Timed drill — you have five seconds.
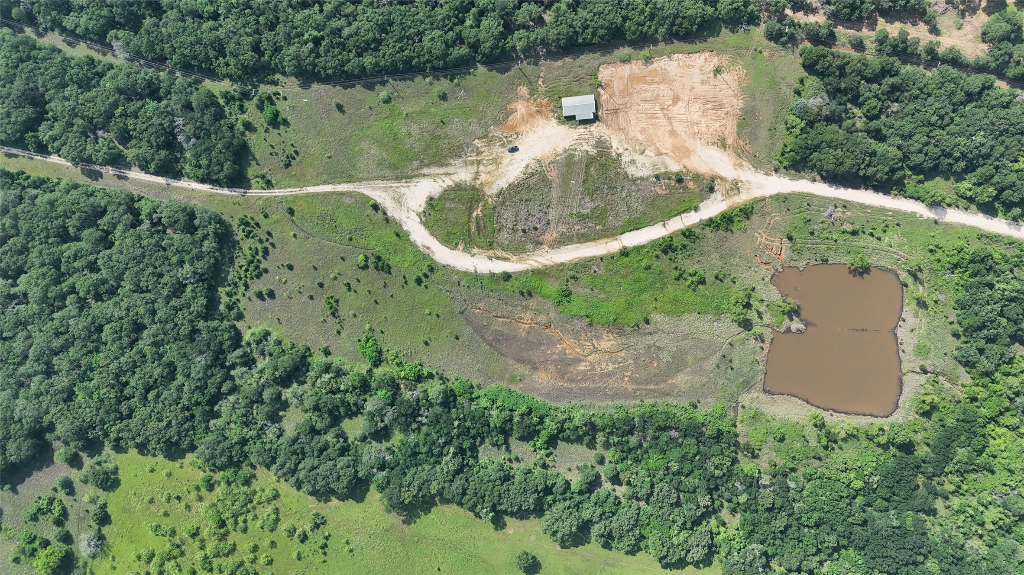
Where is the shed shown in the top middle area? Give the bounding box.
[561,95,596,123]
